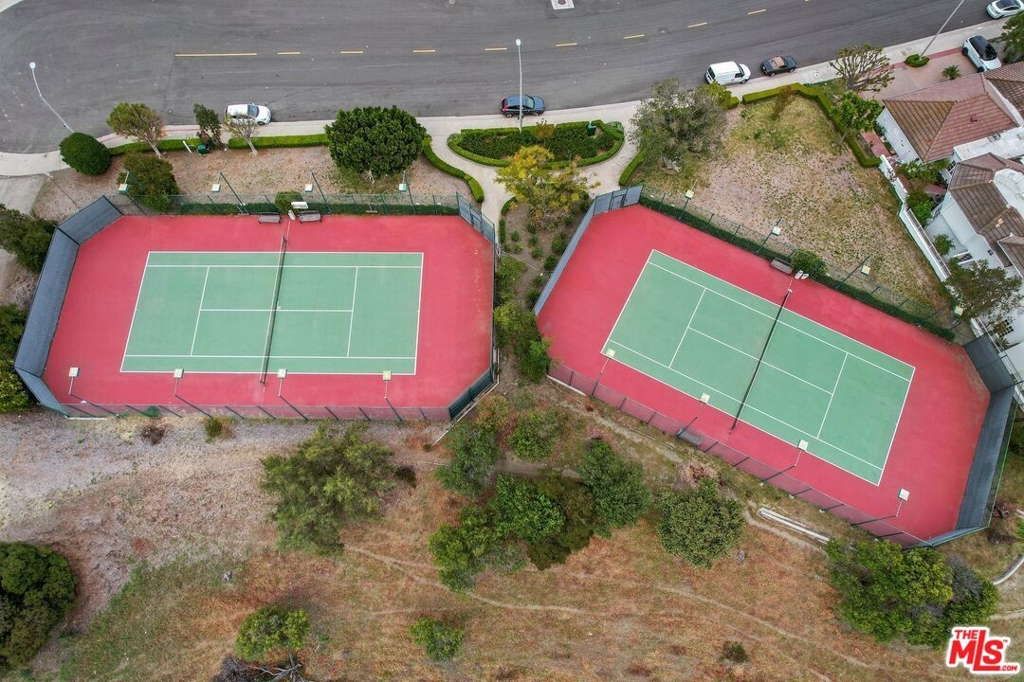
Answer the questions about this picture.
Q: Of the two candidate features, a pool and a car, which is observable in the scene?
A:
car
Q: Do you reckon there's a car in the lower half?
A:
No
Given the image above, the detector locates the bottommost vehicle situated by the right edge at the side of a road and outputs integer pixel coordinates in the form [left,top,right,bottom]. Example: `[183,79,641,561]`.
[961,29,1006,71]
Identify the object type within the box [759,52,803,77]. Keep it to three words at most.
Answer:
car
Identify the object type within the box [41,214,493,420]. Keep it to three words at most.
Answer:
tennis court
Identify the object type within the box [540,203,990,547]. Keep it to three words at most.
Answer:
tennis court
